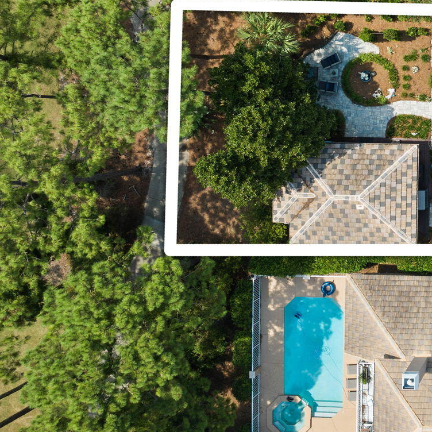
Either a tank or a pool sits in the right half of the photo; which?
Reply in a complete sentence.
The one visible in the right half of the photo is a pool.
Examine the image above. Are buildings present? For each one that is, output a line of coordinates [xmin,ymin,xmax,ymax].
[272,142,421,250]
[341,271,432,432]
